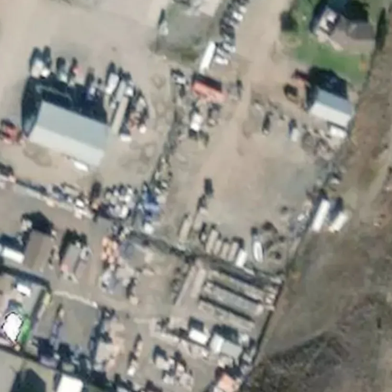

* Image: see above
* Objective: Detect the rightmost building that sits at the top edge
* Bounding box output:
[324,7,376,52]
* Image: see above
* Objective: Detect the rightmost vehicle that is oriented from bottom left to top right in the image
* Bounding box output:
[327,209,349,234]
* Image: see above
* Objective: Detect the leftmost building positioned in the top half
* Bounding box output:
[26,101,114,168]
